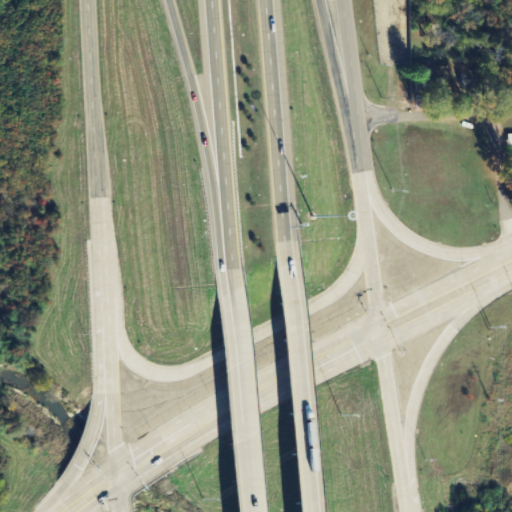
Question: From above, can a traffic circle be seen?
No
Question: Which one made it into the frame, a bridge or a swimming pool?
bridge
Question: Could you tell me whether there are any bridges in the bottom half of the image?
Yes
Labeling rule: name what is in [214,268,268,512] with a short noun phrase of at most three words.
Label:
bridge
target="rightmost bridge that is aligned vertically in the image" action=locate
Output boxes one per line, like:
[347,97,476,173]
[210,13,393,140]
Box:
[276,242,326,512]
